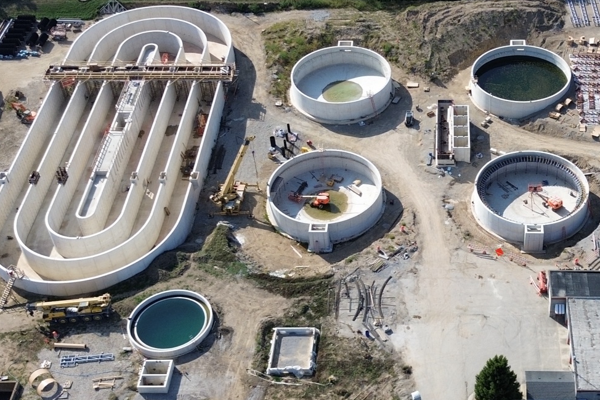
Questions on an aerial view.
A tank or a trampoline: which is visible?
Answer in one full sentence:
I can see a tank in this picture.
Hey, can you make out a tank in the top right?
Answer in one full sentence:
Yes, there is a tank in the top right.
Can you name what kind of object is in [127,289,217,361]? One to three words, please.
storage tank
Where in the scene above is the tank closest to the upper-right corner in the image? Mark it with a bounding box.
[466,42,575,125]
